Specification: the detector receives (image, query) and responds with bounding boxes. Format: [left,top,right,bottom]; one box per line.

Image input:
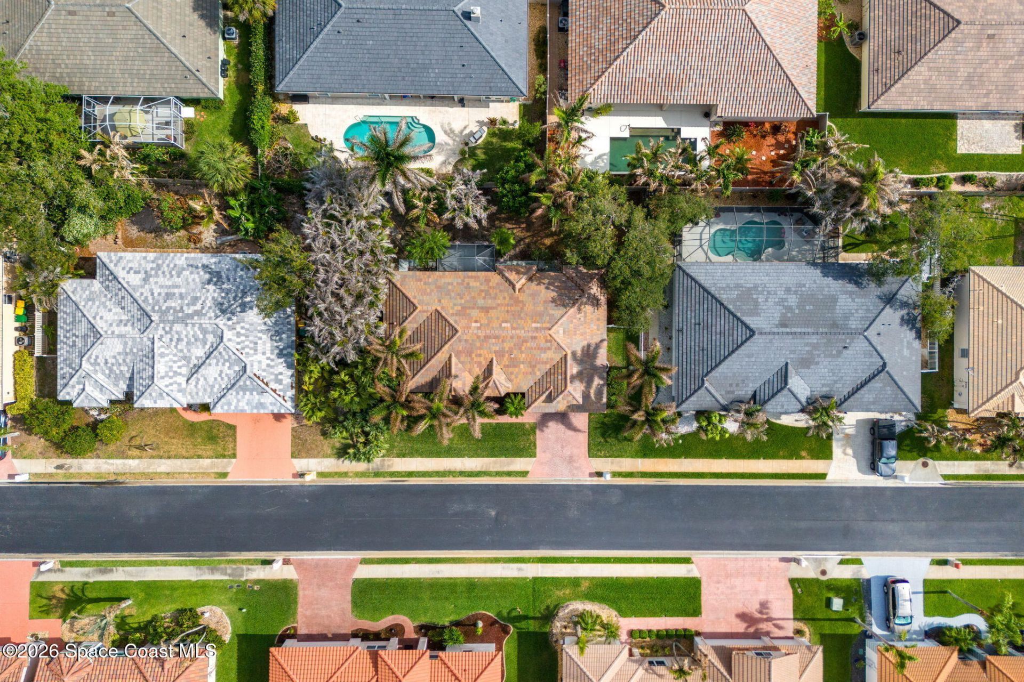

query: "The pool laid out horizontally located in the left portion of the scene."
[341,113,437,157]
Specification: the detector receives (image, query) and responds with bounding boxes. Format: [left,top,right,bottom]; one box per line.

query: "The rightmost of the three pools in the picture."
[708,219,787,261]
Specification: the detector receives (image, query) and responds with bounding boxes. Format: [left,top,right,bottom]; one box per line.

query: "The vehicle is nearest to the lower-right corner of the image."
[882,577,915,632]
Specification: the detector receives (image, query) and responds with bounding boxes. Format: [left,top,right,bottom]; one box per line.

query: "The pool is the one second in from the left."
[610,128,697,171]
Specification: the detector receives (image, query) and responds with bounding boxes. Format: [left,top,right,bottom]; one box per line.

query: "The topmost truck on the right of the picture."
[868,416,901,477]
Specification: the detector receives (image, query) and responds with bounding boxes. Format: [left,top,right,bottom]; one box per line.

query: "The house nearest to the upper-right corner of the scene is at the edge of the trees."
[858,0,1024,115]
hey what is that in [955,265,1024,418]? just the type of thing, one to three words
house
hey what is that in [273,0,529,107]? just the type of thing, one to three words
house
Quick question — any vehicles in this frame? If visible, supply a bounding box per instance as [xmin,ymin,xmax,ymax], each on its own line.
[0,409,8,460]
[868,416,901,477]
[882,577,915,632]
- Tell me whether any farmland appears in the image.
No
